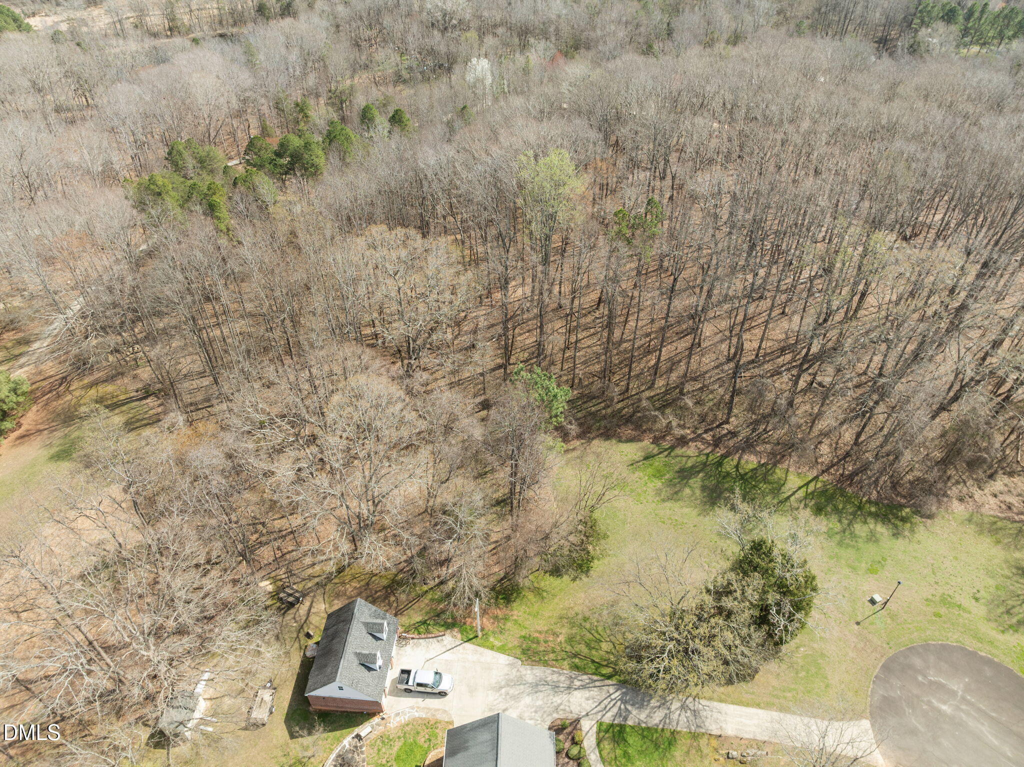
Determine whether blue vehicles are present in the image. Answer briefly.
No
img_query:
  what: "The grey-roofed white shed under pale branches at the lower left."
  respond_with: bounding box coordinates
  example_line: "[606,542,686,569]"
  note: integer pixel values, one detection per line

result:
[153,690,206,743]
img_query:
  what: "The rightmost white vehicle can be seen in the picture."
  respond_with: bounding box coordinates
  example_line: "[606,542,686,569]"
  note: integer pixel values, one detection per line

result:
[397,669,455,696]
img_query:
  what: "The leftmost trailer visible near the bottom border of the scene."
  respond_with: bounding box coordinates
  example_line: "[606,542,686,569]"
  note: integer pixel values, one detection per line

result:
[246,676,276,734]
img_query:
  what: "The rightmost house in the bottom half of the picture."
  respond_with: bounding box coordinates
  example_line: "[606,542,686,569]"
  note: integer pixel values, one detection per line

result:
[442,712,557,767]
